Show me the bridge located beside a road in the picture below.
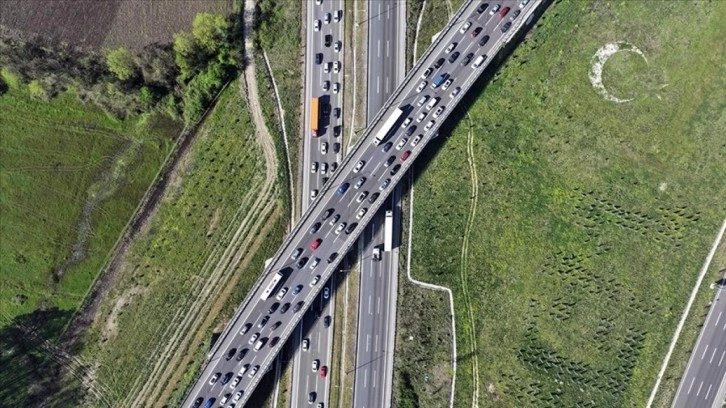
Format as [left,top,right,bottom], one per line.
[179,0,547,408]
